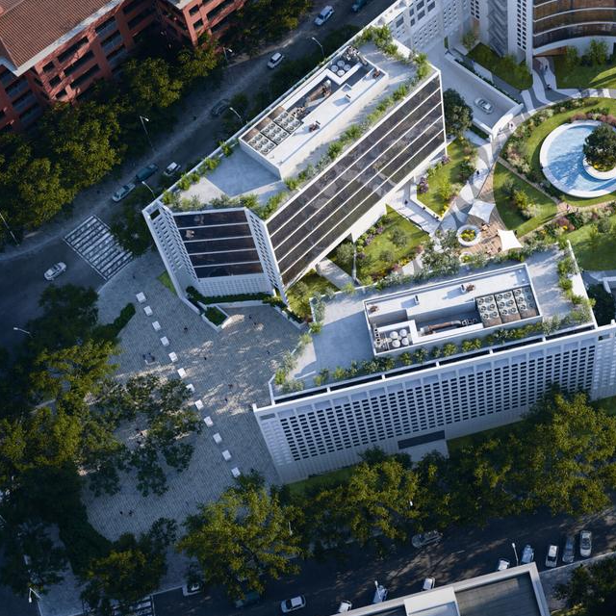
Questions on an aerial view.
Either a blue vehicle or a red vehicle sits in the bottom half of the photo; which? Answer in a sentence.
The one visible in the bottom half of the photo is a blue vehicle.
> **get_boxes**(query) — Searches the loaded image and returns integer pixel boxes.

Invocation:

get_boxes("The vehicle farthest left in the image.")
[39,261,70,282]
